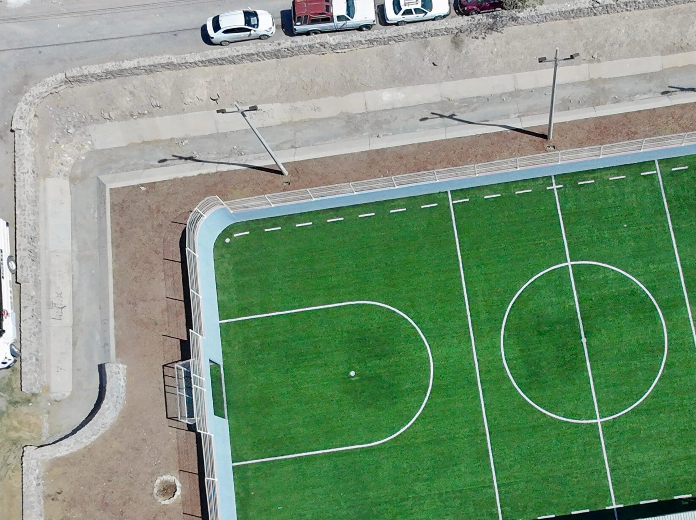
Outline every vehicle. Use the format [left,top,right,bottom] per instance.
[0,217,19,376]
[205,4,276,47]
[384,0,452,23]
[461,0,529,15]
[293,0,384,36]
